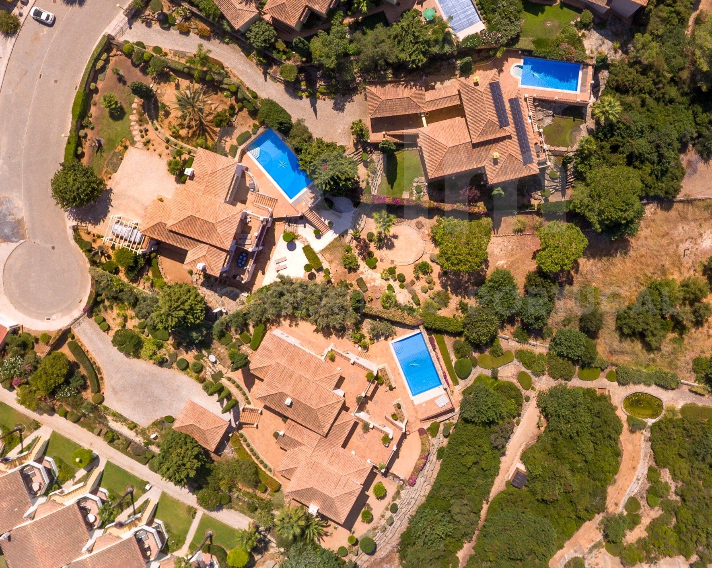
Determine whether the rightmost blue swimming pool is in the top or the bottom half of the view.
top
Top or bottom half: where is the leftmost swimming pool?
top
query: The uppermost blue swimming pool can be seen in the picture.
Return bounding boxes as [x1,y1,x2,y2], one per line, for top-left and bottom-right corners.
[518,54,583,93]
